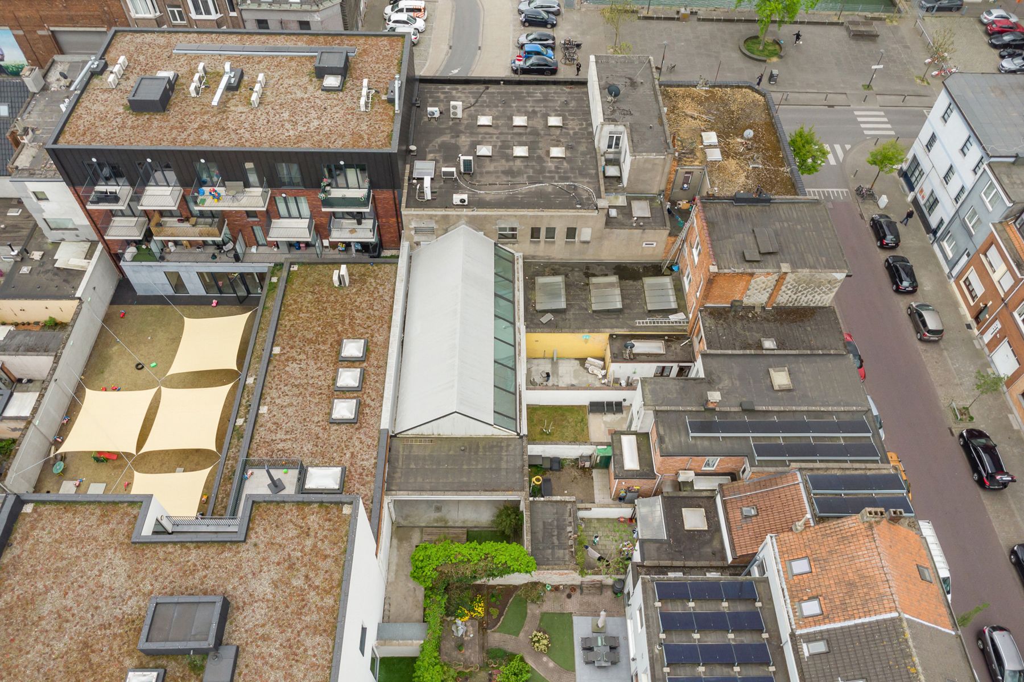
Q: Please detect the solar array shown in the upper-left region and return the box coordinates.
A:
[170,43,359,59]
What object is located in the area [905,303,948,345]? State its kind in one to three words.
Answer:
car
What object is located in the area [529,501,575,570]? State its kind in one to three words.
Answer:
shed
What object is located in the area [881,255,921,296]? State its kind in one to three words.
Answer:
car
